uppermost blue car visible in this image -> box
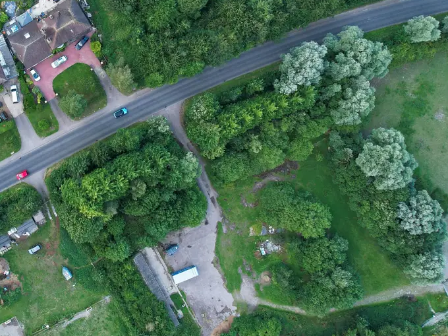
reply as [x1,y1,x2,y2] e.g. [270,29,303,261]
[73,35,91,51]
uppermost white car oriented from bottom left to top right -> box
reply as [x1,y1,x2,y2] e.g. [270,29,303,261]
[49,55,68,69]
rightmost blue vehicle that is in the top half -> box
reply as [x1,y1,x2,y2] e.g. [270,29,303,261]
[112,106,129,119]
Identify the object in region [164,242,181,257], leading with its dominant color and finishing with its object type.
blue car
